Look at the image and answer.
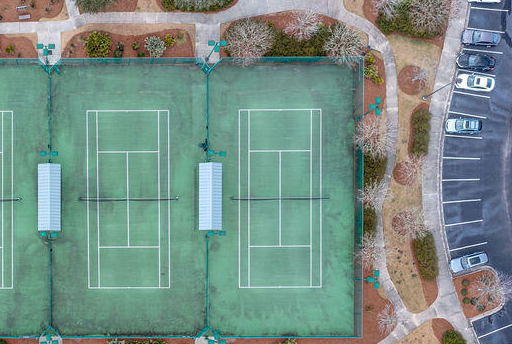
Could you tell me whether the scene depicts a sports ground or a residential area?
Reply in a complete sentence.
This image shows a sports ground.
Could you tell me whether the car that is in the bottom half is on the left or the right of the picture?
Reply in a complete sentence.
You can find the car that is in the bottom half on the right side of the picture.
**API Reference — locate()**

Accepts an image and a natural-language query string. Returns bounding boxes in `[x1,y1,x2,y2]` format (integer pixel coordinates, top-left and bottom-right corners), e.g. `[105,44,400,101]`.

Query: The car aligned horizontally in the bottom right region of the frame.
[450,252,489,272]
